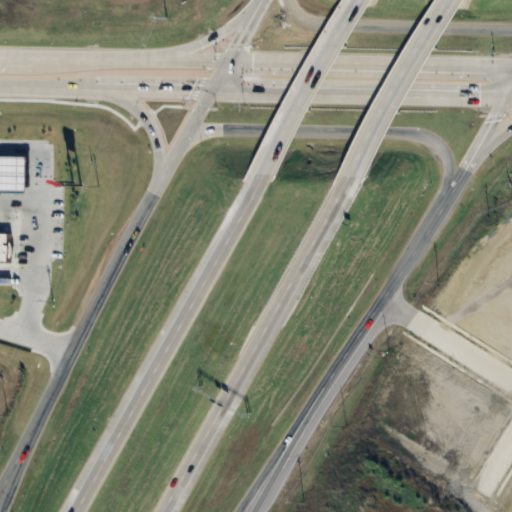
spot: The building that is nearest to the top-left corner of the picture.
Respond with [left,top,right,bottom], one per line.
[0,156,30,192]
